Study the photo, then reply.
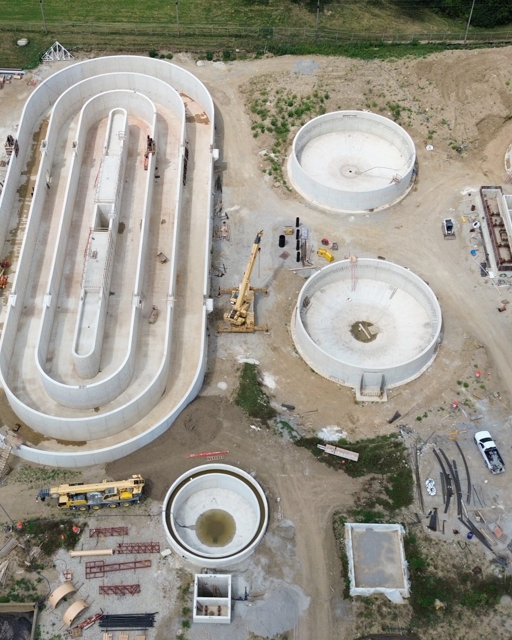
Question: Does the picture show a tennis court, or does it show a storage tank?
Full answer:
Of the two, only a storage tank appears.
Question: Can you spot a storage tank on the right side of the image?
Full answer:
Yes, you'll find a storage tank on the right side of the image.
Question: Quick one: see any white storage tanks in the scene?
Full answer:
Yes, looking at the shot, I can spot a white storage tank.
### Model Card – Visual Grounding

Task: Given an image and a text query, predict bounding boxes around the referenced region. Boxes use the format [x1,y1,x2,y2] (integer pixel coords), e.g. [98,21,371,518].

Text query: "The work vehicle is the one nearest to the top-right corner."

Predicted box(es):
[443,212,458,239]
